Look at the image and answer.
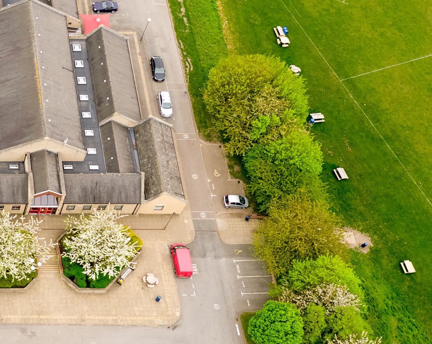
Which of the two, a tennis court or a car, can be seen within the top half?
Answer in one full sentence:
What appears within the top half is a car.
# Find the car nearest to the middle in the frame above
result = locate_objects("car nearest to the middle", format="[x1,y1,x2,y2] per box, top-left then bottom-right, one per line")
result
[222,194,249,209]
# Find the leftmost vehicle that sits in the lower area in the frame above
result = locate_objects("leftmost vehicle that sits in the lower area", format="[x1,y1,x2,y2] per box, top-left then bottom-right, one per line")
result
[171,244,193,278]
